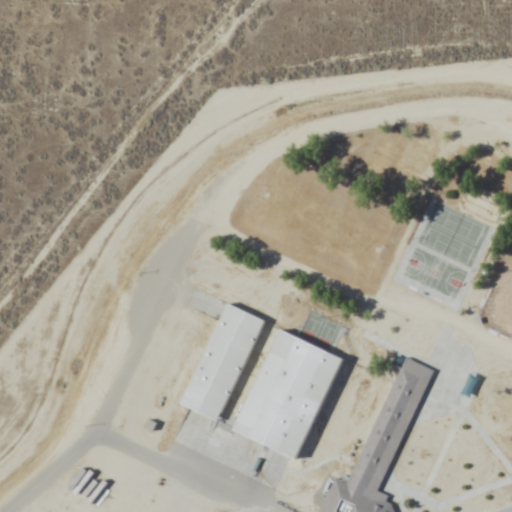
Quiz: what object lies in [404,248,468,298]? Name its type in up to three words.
basketball court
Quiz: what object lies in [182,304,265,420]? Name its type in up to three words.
building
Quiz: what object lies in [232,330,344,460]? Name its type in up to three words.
building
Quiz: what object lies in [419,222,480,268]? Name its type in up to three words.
tennis court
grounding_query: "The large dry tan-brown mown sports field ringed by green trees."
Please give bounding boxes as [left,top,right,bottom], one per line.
[232,127,438,294]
